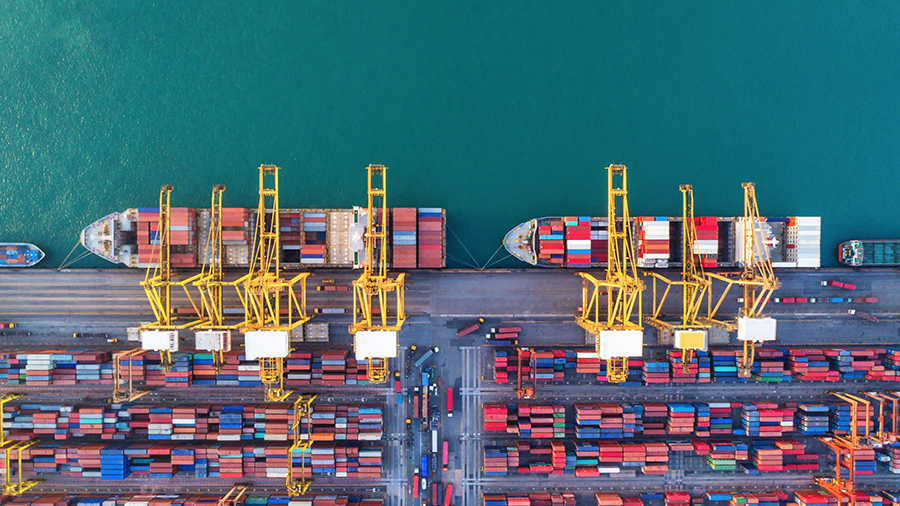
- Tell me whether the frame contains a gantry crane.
Yes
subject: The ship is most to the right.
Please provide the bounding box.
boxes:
[834,238,900,266]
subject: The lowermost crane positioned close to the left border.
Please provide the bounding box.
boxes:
[4,437,45,503]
